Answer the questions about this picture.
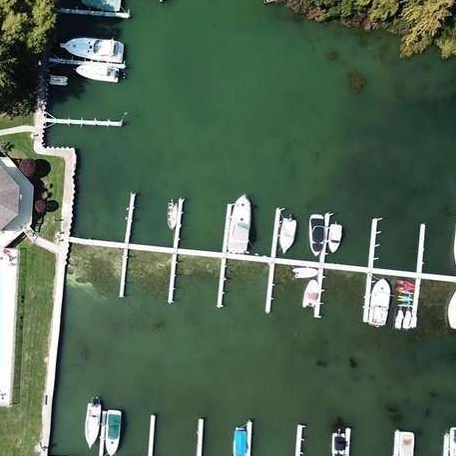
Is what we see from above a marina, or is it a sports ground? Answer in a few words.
marina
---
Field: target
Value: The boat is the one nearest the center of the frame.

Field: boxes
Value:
[229,191,254,255]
